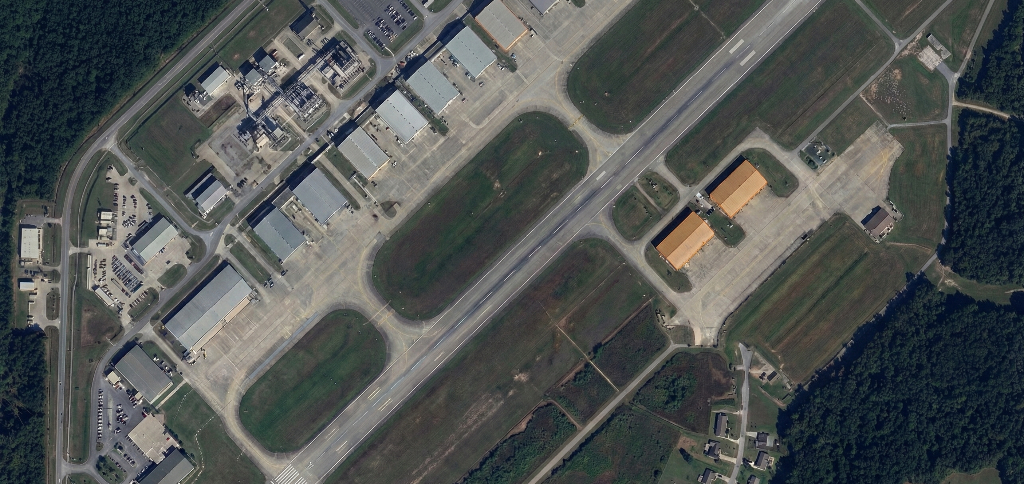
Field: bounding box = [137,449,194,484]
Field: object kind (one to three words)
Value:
hangar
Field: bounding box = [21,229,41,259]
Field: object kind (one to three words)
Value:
building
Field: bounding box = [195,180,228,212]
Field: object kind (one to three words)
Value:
building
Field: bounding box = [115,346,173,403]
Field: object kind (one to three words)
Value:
hangar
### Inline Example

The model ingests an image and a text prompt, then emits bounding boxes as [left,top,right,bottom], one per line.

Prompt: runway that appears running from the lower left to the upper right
[268,0,821,484]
